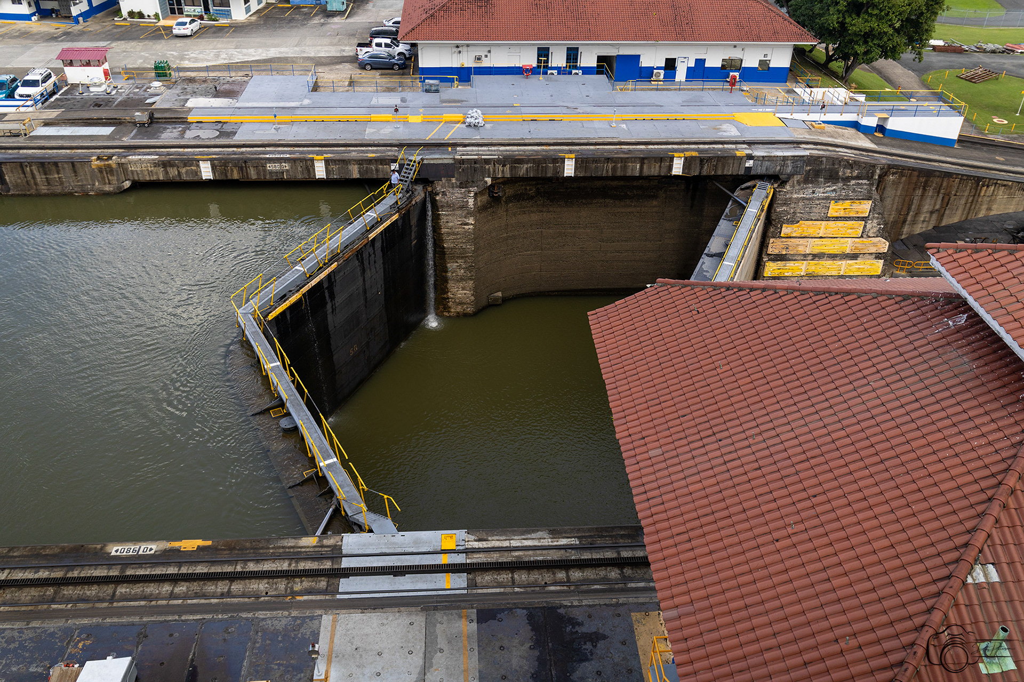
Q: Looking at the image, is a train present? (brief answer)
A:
No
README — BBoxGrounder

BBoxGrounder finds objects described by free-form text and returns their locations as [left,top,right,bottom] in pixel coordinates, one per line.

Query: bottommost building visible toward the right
[586,274,1024,682]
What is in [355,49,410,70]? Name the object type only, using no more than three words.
car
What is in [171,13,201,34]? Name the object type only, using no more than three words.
car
